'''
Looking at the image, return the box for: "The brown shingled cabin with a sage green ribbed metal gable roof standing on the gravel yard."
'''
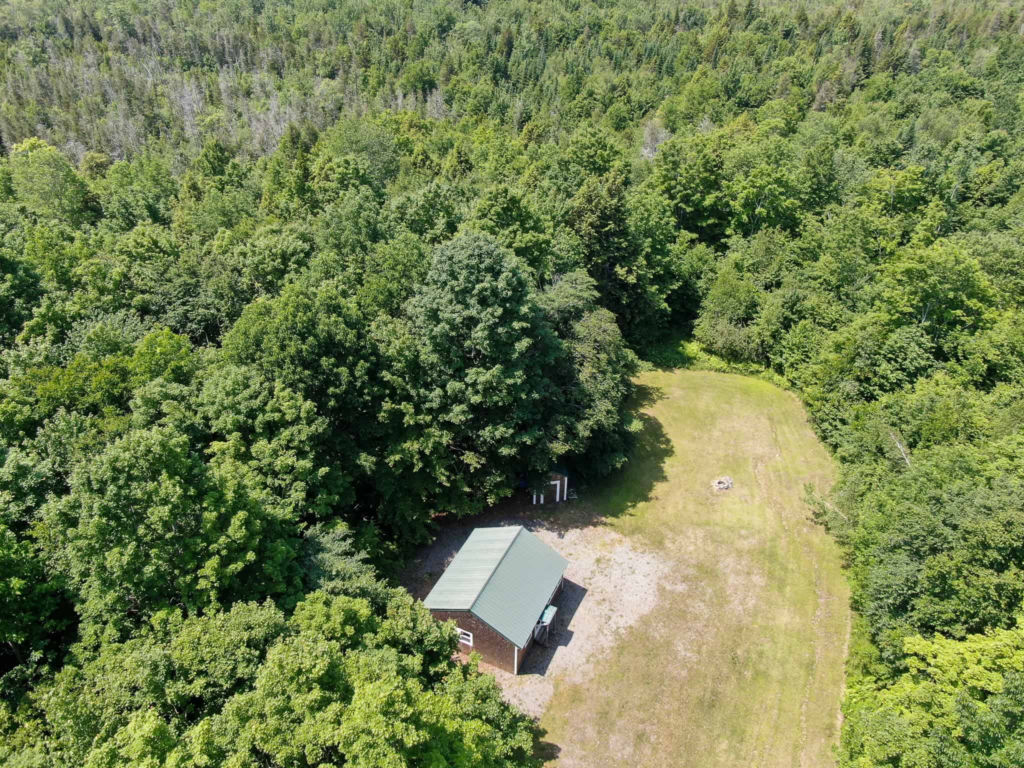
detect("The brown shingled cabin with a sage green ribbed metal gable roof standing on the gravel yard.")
[422,525,569,675]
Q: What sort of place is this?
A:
forest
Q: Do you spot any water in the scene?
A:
No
